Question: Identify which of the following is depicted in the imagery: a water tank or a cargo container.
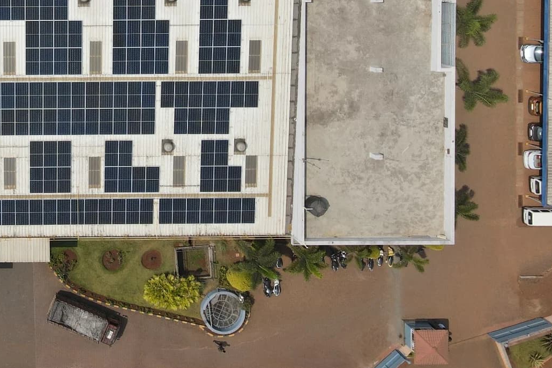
water tank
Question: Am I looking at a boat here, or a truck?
truck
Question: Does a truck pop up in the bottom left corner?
Yes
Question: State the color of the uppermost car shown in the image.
white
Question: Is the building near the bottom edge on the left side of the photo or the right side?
right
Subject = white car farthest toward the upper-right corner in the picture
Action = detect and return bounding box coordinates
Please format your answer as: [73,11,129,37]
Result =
[519,42,543,65]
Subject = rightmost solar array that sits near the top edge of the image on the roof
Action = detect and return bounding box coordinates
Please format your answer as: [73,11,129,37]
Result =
[197,0,242,73]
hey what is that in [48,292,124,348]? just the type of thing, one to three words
truck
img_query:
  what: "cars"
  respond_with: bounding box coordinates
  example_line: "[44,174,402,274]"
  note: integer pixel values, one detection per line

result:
[526,95,542,115]
[527,176,541,196]
[522,149,541,170]
[519,42,543,65]
[527,121,542,142]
